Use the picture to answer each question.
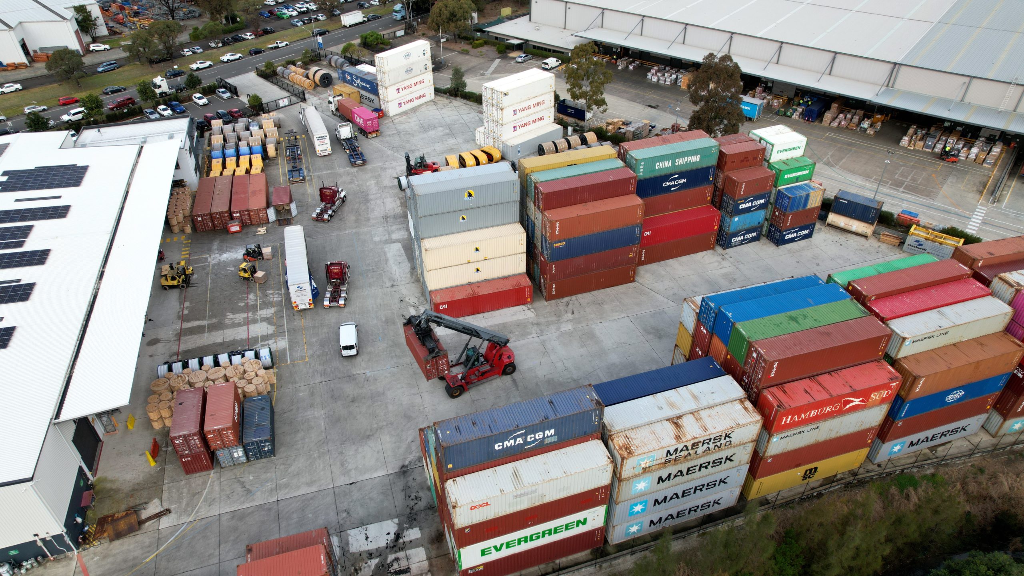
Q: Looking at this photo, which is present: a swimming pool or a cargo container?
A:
cargo container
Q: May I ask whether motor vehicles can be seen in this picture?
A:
Yes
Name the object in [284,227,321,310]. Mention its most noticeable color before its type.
white trailer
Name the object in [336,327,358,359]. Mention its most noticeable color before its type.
white vehicle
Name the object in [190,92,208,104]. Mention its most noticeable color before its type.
white vehicle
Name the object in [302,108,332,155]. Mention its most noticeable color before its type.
white trailer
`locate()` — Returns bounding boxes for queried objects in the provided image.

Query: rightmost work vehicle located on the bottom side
[404,318,521,399]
